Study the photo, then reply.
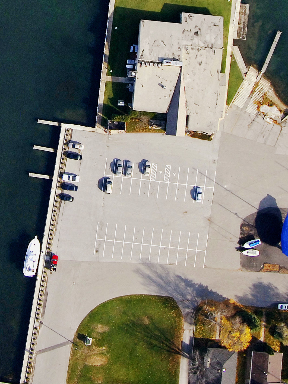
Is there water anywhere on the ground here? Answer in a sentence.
Yes, there's water in this view.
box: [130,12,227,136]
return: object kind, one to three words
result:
building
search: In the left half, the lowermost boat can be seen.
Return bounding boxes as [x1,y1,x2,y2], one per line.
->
[23,237,39,279]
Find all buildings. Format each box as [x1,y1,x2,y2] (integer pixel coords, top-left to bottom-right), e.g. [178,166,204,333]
[203,348,238,384]
[130,12,227,136]
[248,352,283,384]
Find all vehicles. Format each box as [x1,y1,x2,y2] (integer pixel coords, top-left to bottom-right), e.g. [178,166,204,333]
[144,161,152,177]
[61,184,78,191]
[126,162,133,178]
[68,143,85,150]
[59,194,75,202]
[116,161,124,177]
[196,187,203,203]
[67,152,83,161]
[62,174,81,182]
[50,255,58,272]
[107,179,113,194]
